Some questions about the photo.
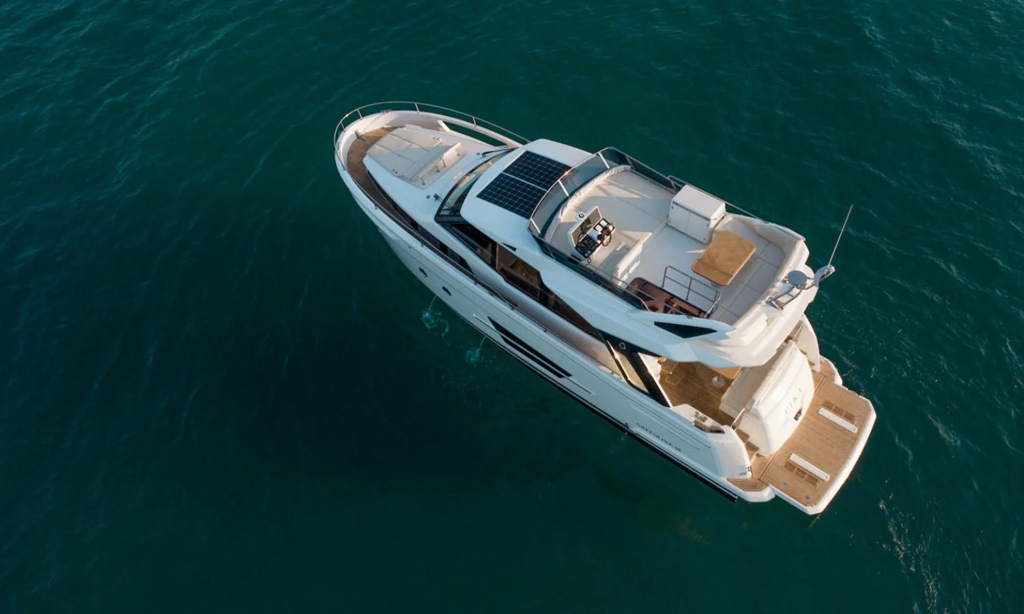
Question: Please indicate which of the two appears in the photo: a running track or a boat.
boat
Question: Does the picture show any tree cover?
No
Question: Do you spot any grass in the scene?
No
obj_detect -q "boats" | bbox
[333,100,877,516]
